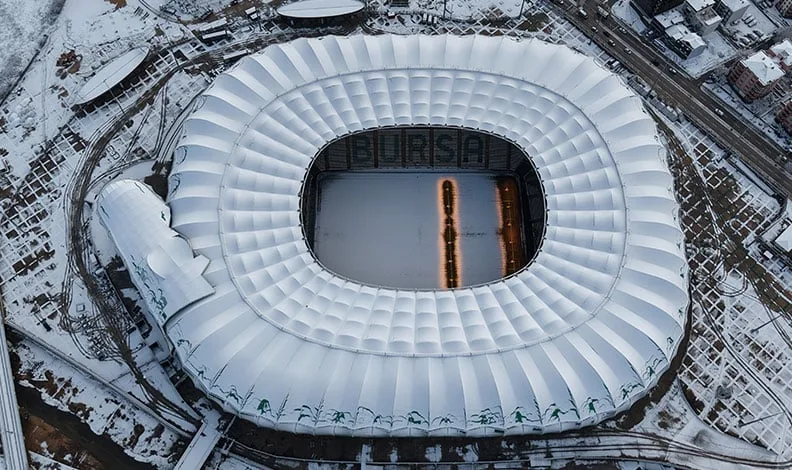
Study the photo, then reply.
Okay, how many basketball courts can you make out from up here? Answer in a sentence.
The count of basketball courts is 0.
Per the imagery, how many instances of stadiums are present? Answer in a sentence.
My tally gives 1 stadium in this photo.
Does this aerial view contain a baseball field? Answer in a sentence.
No, there's no baseball field here.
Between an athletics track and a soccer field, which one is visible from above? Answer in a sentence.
Visible in the photo is a soccer field.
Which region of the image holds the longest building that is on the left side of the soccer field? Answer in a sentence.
The longest building that is on the left side of the soccer field appears toward the left of the photo.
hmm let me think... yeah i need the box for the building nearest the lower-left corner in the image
[97,179,217,324]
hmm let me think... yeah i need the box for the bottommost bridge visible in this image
[172,421,223,470]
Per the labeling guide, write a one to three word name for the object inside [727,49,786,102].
building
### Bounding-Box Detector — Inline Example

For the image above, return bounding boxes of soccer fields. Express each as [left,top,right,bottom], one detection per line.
[311,169,531,291]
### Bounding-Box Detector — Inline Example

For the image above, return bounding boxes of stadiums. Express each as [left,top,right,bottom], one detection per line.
[160,33,689,436]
